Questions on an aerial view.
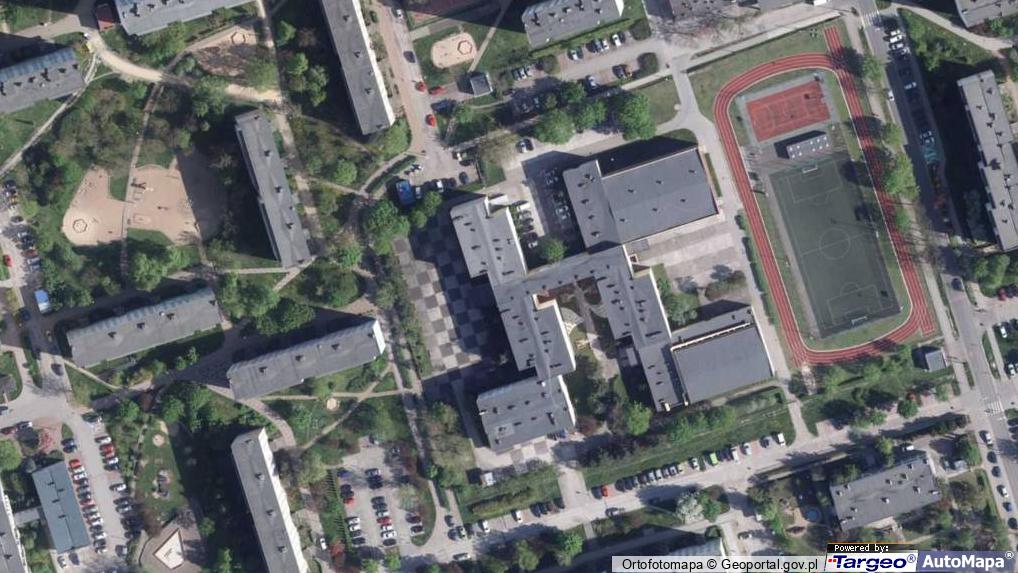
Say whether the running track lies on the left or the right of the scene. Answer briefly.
right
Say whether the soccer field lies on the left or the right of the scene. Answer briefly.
right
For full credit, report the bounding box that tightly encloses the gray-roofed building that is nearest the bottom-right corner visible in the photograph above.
[830,454,941,530]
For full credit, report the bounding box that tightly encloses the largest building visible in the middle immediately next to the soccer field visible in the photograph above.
[450,144,774,454]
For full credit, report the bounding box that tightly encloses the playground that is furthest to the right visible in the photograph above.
[432,33,477,68]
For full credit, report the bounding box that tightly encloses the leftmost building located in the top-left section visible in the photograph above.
[0,49,92,109]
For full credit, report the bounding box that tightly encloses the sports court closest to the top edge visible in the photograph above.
[404,0,494,30]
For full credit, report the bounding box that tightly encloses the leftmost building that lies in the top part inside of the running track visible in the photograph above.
[786,131,829,160]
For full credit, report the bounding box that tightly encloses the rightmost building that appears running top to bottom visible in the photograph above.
[953,64,1018,252]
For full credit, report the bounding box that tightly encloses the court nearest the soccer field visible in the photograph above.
[736,71,841,154]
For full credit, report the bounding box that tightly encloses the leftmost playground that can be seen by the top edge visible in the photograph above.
[195,25,261,65]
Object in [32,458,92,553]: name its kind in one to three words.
building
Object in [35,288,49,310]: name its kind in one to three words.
vehicle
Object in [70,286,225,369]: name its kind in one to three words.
building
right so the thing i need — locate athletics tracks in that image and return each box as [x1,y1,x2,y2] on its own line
[716,25,936,365]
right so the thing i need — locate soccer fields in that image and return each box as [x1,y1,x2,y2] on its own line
[769,149,900,338]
